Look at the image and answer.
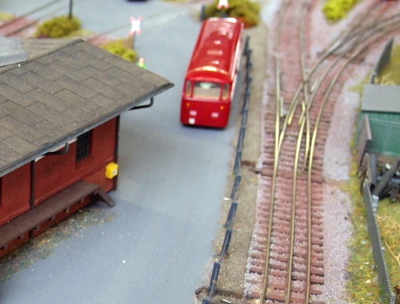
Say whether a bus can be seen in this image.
Yes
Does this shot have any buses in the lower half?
No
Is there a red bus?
Yes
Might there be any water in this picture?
No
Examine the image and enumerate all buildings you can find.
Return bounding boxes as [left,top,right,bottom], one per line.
[353,78,400,150]
[0,24,174,259]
